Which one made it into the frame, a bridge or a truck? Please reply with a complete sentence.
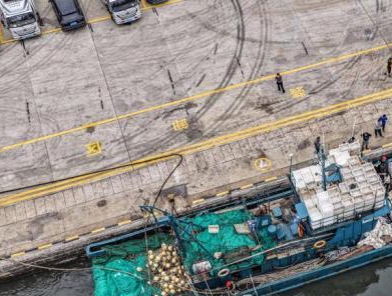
The image shows a truck.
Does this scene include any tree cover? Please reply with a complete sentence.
No, the scene doesn't show any tree cover.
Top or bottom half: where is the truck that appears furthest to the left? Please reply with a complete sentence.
The truck that appears furthest to the left sits in the top half of the picture.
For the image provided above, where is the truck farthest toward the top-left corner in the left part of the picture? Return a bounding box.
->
[0,0,40,44]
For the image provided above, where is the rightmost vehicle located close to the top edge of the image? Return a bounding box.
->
[99,0,138,26]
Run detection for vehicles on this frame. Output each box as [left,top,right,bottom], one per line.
[50,0,86,30]
[99,0,138,26]
[0,0,40,44]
